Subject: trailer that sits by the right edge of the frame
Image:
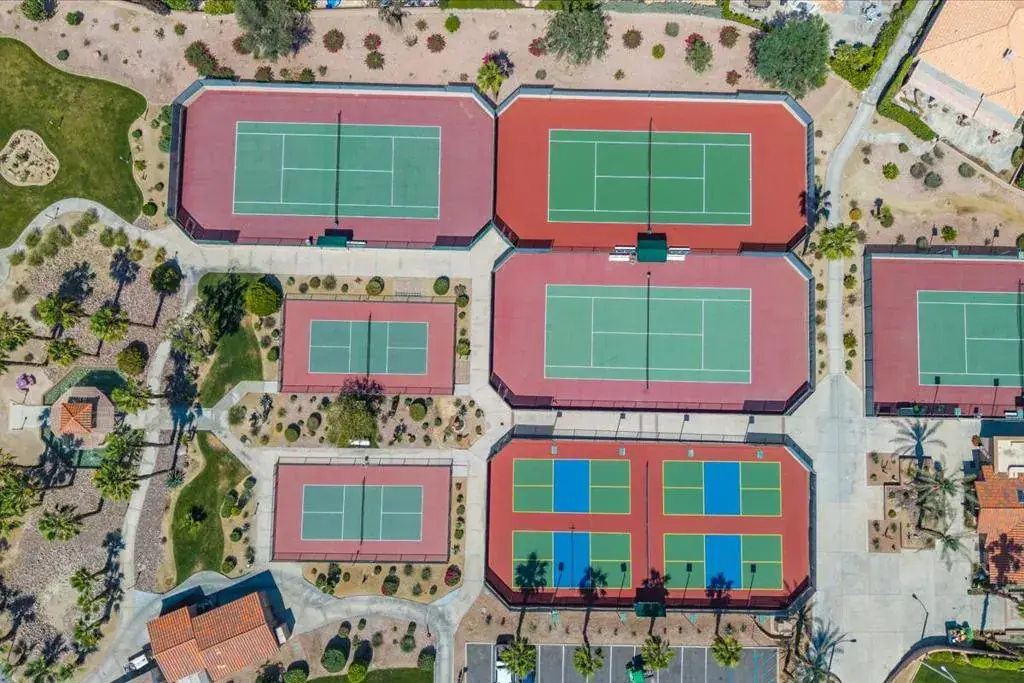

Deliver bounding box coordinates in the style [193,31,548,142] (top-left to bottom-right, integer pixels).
[946,620,977,644]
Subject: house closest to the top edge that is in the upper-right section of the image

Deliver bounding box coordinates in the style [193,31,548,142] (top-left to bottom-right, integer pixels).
[898,0,1024,136]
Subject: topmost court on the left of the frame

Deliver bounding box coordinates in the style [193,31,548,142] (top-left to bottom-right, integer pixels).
[180,88,494,249]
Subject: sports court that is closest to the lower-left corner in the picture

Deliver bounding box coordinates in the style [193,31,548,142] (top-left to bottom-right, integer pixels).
[273,465,451,562]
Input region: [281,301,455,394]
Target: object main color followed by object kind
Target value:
pink sports court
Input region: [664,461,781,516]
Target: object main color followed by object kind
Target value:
green sports court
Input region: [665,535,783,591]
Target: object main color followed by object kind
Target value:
green sports court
